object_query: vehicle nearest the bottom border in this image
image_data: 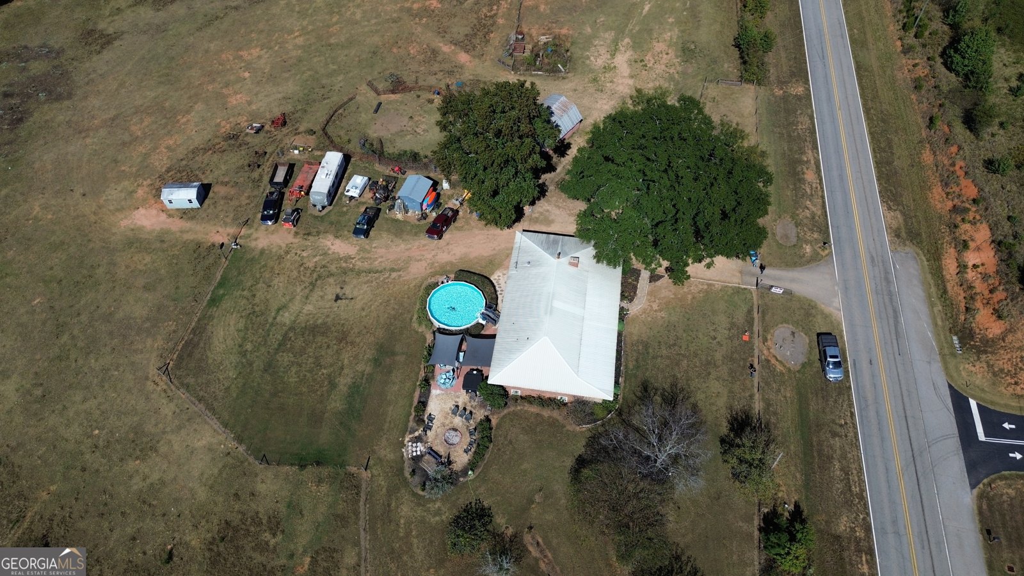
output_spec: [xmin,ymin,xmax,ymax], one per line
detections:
[817,336,848,381]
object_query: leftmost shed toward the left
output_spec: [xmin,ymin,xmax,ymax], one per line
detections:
[160,181,204,209]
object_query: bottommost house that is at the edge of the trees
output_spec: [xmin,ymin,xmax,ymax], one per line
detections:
[489,214,624,406]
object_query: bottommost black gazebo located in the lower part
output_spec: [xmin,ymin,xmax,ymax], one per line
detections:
[461,368,483,394]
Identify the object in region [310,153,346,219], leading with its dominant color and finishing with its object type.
white vehicle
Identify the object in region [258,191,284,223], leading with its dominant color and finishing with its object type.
black truck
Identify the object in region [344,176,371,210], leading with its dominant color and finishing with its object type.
white vehicle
